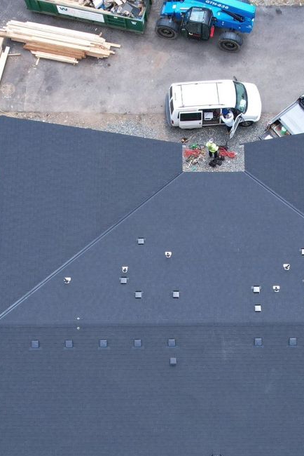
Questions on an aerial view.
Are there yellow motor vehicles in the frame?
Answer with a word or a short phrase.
No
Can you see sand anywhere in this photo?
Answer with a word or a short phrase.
No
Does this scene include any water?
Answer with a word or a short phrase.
No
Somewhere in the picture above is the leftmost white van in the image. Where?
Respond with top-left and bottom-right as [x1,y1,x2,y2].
[163,78,264,141]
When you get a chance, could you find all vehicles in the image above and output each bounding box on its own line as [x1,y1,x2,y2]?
[141,0,257,53]
[252,91,304,140]
[163,78,264,141]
